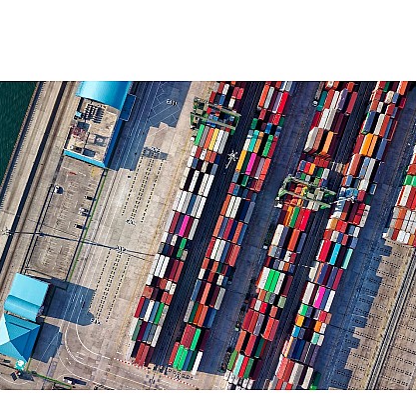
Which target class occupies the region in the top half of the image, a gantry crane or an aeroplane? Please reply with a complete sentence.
You can see a gantry crane in the top half of the image.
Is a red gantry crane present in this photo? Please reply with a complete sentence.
No, no red gantry crane is visible in the scene.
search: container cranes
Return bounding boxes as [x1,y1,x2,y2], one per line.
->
[187,94,244,143]
[275,173,338,214]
